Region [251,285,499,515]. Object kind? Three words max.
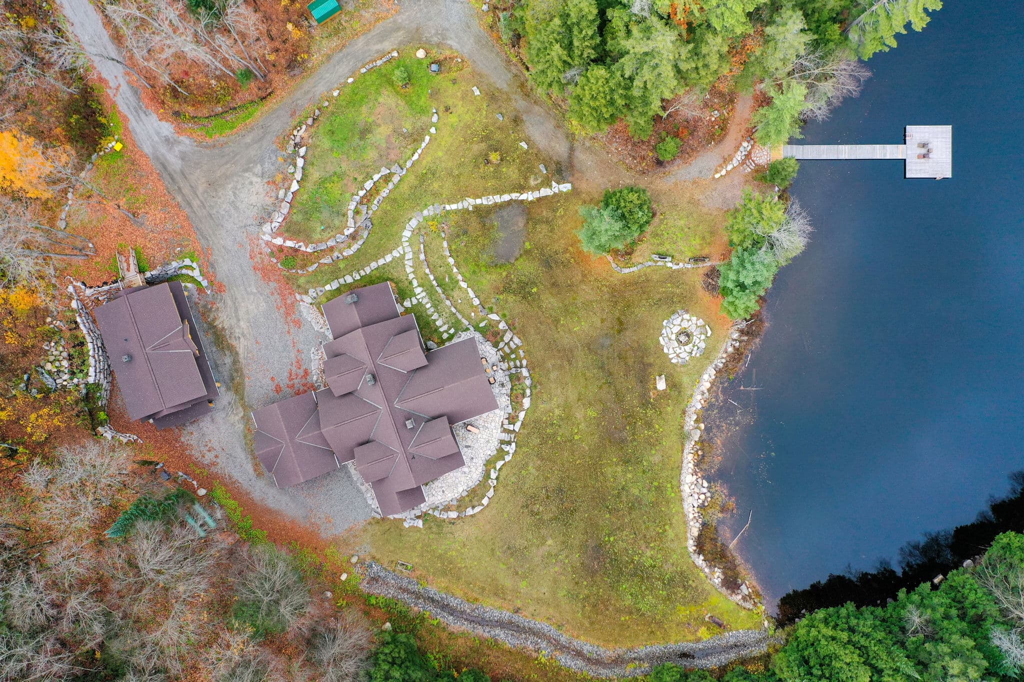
house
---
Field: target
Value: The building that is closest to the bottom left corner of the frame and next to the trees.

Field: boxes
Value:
[96,280,231,430]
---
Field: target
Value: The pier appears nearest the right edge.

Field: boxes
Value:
[904,125,952,179]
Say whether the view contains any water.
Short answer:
Yes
